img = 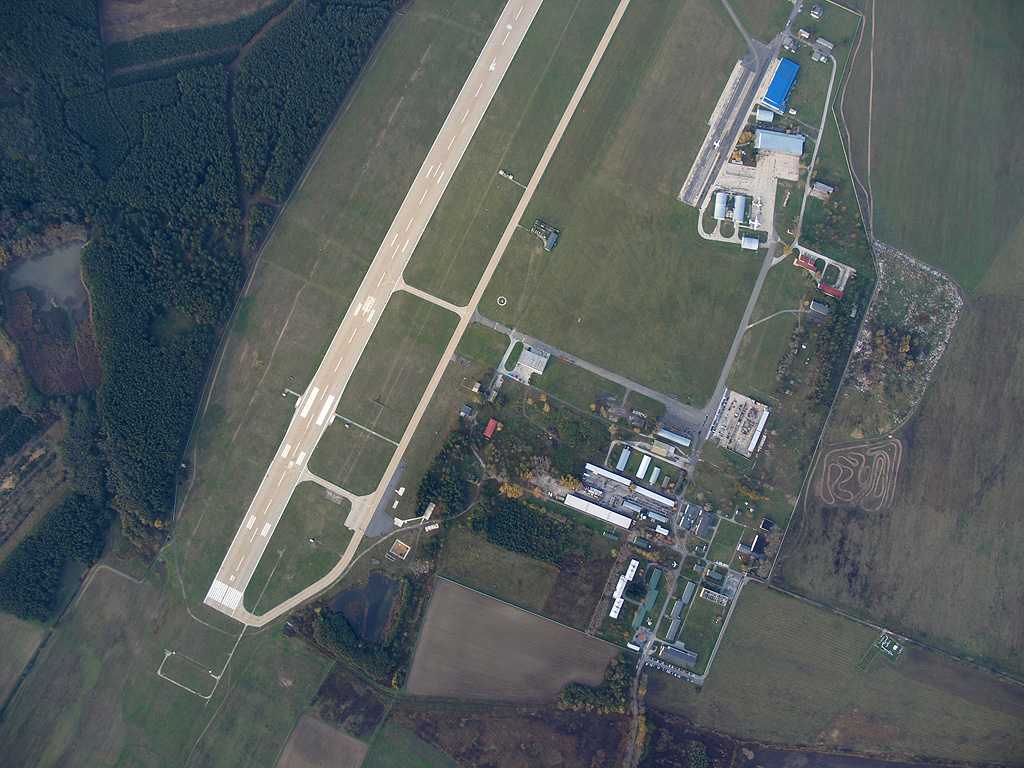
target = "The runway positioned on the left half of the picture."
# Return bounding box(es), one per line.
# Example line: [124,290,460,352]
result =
[204,0,543,617]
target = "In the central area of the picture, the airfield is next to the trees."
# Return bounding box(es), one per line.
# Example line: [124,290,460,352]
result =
[204,0,802,627]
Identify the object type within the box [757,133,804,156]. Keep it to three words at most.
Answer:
hangar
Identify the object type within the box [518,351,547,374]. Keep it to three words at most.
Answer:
building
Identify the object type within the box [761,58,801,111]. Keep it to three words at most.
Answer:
hangar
